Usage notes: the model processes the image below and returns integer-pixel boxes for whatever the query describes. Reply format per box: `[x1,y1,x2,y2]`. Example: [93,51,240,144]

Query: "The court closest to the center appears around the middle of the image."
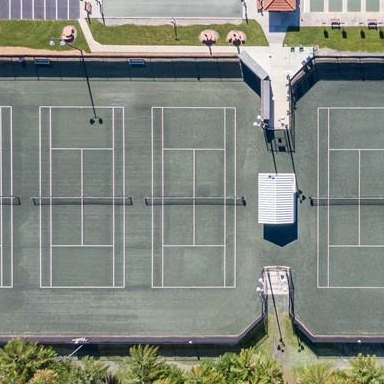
[152,106,236,289]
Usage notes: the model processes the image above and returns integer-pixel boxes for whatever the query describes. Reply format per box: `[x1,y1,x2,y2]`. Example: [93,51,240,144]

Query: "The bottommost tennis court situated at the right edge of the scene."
[317,106,384,289]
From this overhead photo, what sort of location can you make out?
sports ground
